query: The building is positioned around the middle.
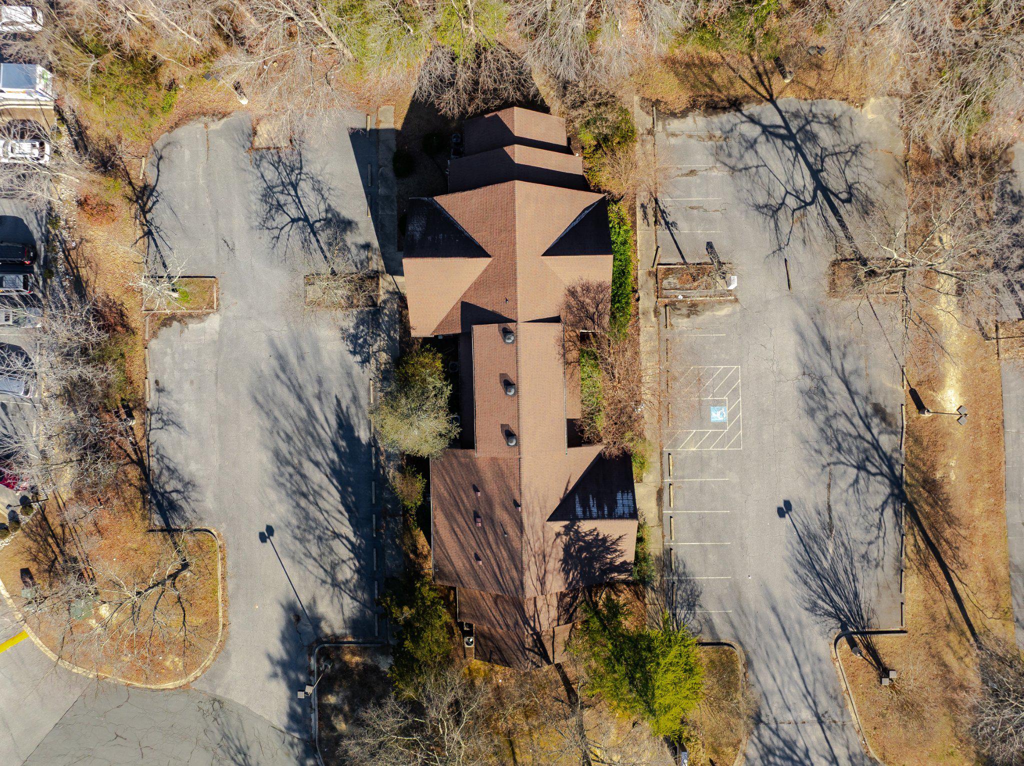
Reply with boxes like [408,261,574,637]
[404,107,638,670]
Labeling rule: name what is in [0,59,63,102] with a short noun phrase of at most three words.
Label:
truck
